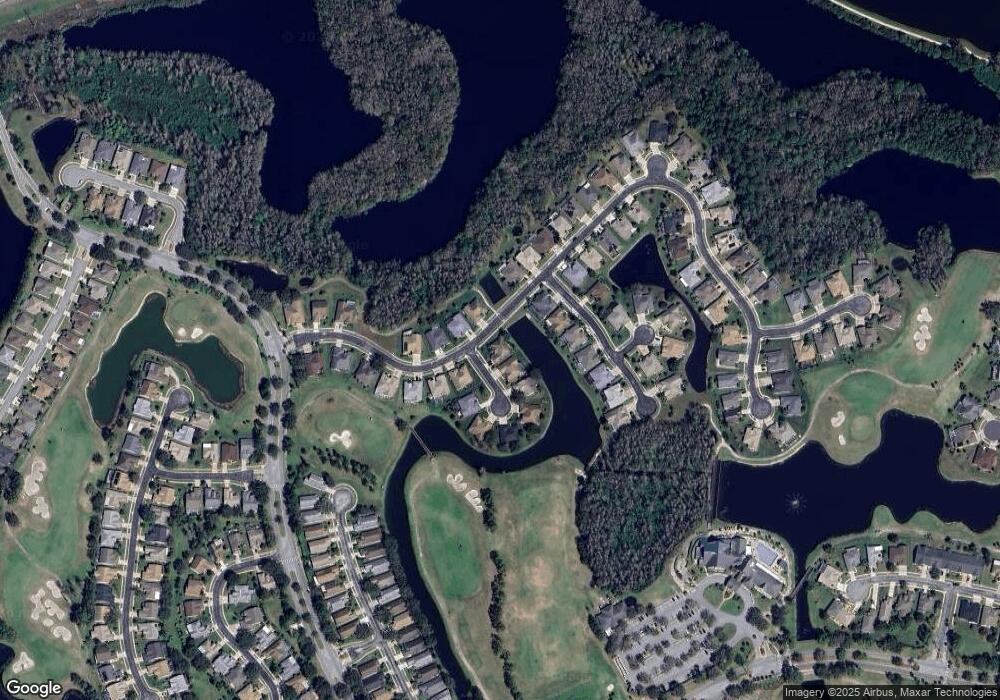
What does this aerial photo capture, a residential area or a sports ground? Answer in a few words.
residential area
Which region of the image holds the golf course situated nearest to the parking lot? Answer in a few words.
bottom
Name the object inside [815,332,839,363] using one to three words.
house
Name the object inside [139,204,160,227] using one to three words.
house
